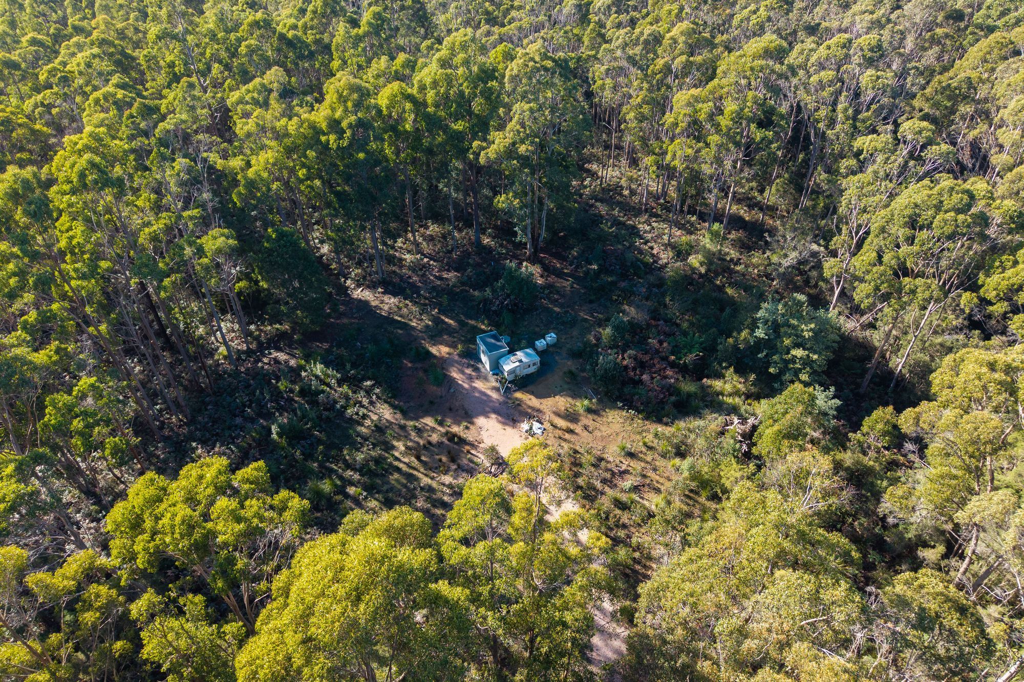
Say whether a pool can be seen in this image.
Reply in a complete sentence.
No, I find no pool anywhere in the image.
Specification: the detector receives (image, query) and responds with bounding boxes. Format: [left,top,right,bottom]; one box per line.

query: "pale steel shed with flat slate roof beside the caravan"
[477,330,508,373]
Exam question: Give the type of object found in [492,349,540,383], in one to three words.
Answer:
camper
